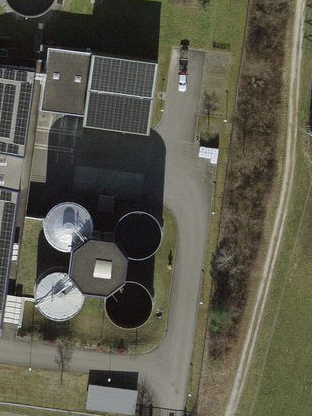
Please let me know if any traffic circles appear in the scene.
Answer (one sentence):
No, there is no traffic circle in the image.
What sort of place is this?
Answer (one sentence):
It's an industrial area.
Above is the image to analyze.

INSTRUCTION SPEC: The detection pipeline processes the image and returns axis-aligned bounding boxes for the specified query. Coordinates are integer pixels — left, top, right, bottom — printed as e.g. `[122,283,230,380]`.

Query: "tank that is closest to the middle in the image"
[113,206,164,260]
